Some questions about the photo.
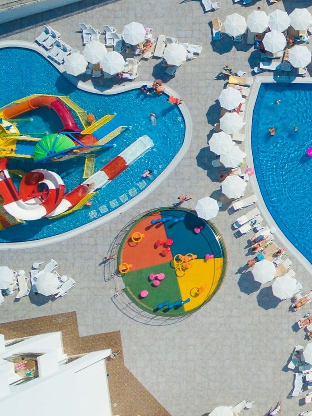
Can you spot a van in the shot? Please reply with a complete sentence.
No, I find no van anywhere in the image.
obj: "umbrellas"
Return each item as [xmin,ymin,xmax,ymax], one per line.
[222,174,249,198]
[124,21,153,46]
[38,271,69,294]
[291,7,312,30]
[85,39,114,63]
[66,52,93,76]
[0,266,26,290]
[196,195,223,220]
[209,132,235,154]
[166,44,190,67]
[210,401,236,416]
[225,11,249,36]
[267,7,291,32]
[288,45,312,69]
[219,88,244,112]
[304,343,312,363]
[222,143,246,167]
[253,259,277,283]
[222,113,246,136]
[246,9,269,33]
[275,275,298,299]
[103,51,129,74]
[265,30,287,53]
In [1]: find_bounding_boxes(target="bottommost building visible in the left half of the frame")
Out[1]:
[0,331,114,416]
